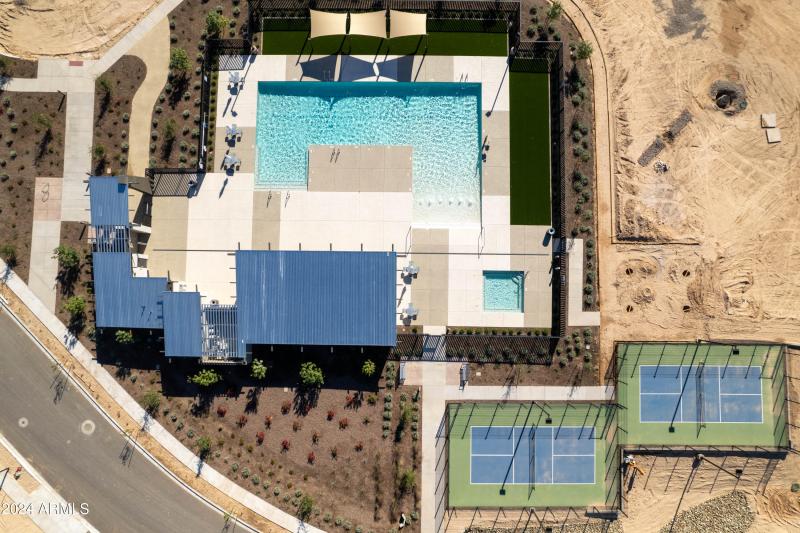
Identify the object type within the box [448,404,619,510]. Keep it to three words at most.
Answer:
sports court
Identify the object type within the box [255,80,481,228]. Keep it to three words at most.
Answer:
swimming pool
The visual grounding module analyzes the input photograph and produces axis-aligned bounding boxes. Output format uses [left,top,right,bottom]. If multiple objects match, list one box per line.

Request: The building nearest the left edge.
[82,175,203,334]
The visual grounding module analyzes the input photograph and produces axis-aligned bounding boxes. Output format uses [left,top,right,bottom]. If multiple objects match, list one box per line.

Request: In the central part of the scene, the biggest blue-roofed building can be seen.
[229,242,404,357]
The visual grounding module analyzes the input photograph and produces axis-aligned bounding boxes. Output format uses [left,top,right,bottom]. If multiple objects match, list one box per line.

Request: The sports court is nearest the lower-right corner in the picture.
[616,342,788,448]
